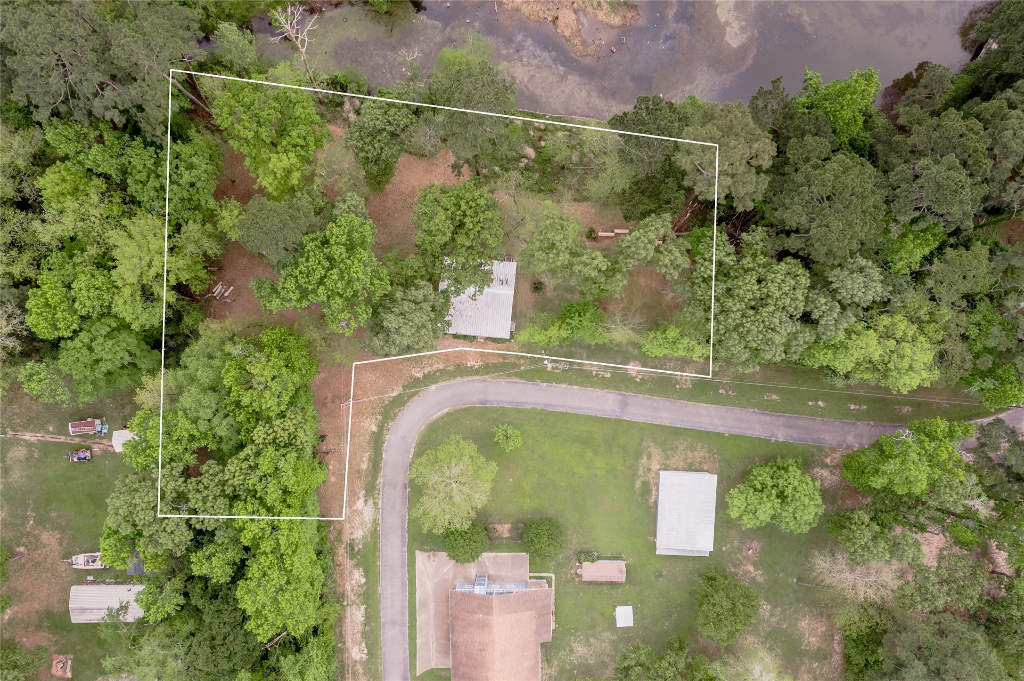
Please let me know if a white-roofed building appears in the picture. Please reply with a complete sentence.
Yes, you can see a white-roofed building in this photo.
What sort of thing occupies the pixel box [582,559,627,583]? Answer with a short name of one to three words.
shed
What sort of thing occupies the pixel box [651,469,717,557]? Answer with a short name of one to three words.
building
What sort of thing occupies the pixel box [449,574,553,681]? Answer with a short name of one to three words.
house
